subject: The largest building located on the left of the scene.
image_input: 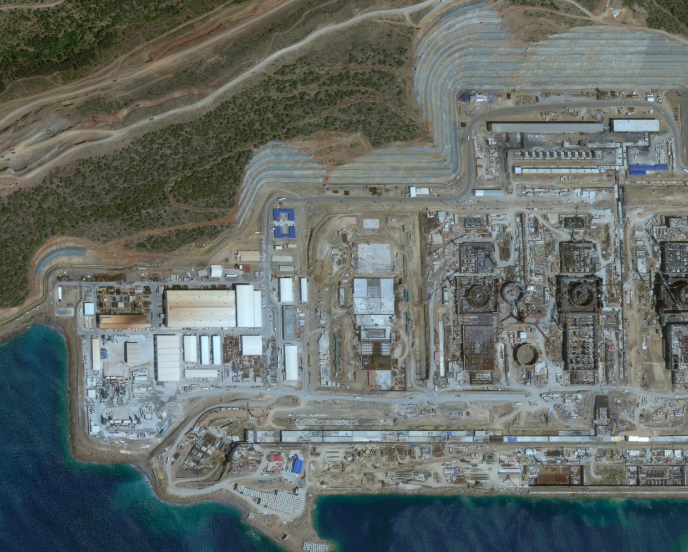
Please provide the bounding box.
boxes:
[164,290,236,327]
